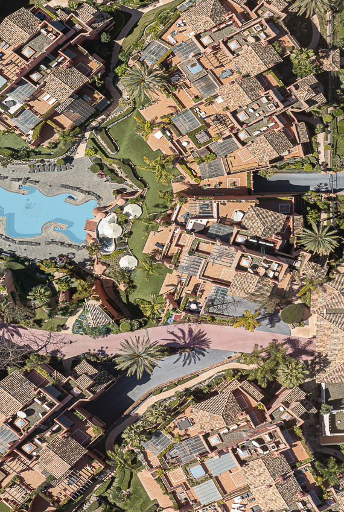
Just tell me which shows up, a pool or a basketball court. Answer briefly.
pool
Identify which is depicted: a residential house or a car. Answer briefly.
residential house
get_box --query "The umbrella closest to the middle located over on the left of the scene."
[119,254,137,272]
